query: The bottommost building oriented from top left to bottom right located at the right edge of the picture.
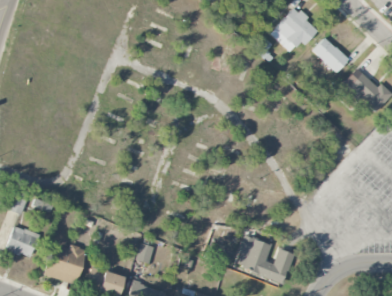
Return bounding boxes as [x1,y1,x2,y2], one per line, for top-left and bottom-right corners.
[353,68,392,108]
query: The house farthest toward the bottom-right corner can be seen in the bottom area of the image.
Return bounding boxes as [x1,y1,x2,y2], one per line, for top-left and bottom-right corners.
[242,237,294,285]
